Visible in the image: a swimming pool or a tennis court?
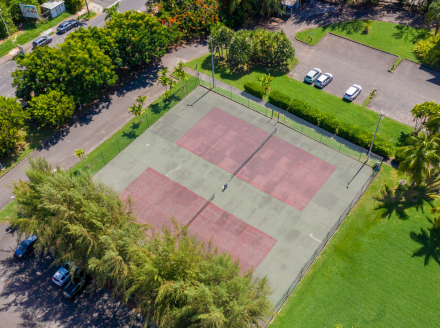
tennis court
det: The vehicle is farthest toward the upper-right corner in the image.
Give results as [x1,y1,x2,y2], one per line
[342,84,361,100]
